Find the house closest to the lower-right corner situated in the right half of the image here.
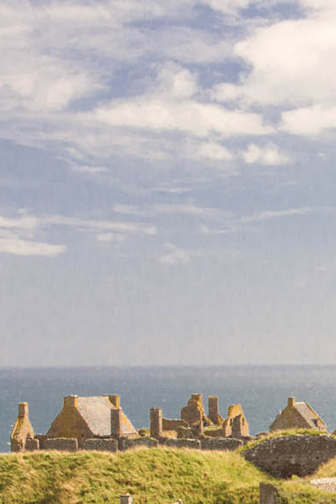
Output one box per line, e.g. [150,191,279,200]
[268,397,336,432]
